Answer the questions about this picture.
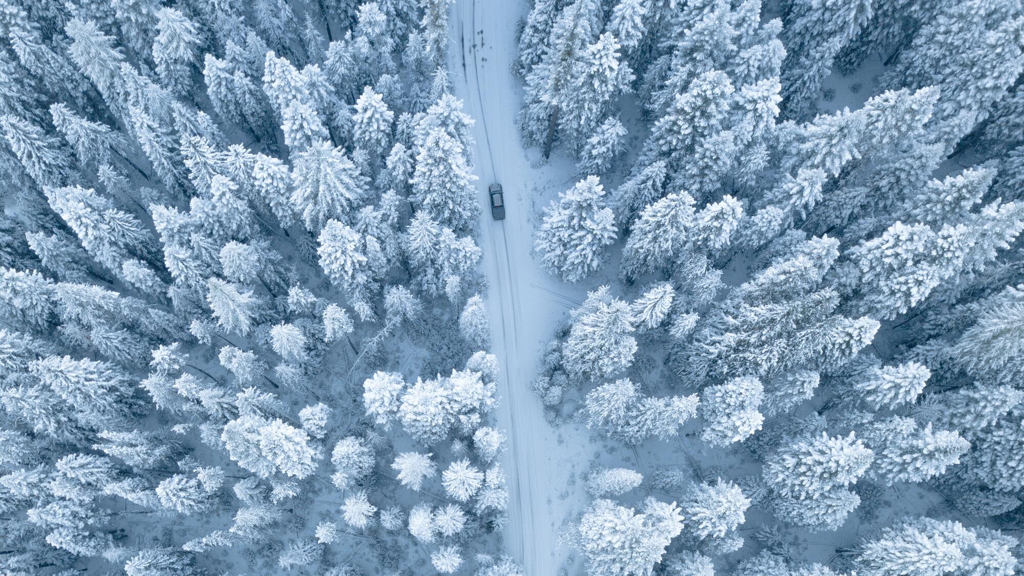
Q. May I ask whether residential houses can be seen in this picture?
No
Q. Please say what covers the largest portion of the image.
trees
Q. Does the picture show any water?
No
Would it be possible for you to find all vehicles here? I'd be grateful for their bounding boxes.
[490,184,508,222]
